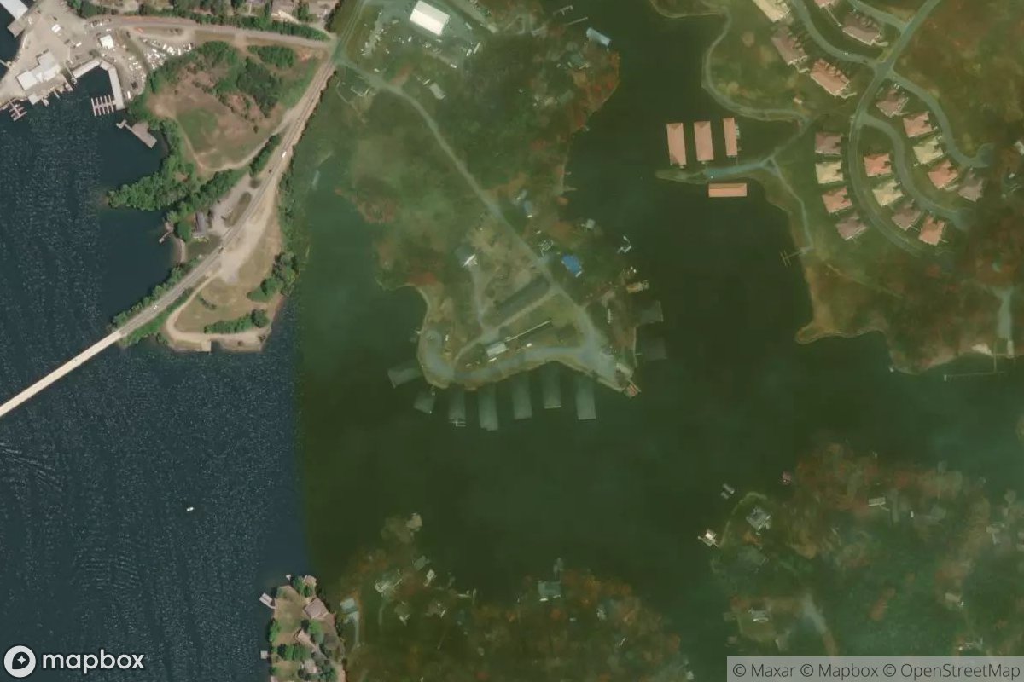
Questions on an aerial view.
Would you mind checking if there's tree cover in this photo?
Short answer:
Yes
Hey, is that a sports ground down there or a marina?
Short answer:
marina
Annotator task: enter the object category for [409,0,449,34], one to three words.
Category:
building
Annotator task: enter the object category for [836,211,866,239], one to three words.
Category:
house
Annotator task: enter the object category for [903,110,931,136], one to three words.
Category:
house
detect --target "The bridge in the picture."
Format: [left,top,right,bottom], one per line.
[0,329,122,417]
